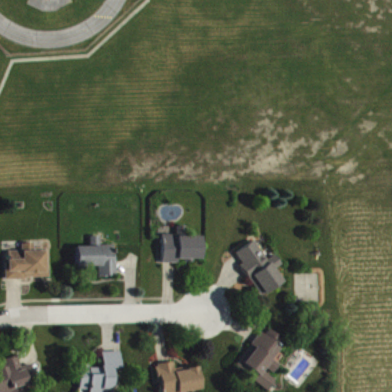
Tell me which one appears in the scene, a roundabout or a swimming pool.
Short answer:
swimming pool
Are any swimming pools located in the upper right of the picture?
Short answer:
No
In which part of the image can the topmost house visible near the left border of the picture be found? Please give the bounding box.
[6,243,50,280]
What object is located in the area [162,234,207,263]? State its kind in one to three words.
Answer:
house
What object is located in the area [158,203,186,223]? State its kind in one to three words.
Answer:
swimming pool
